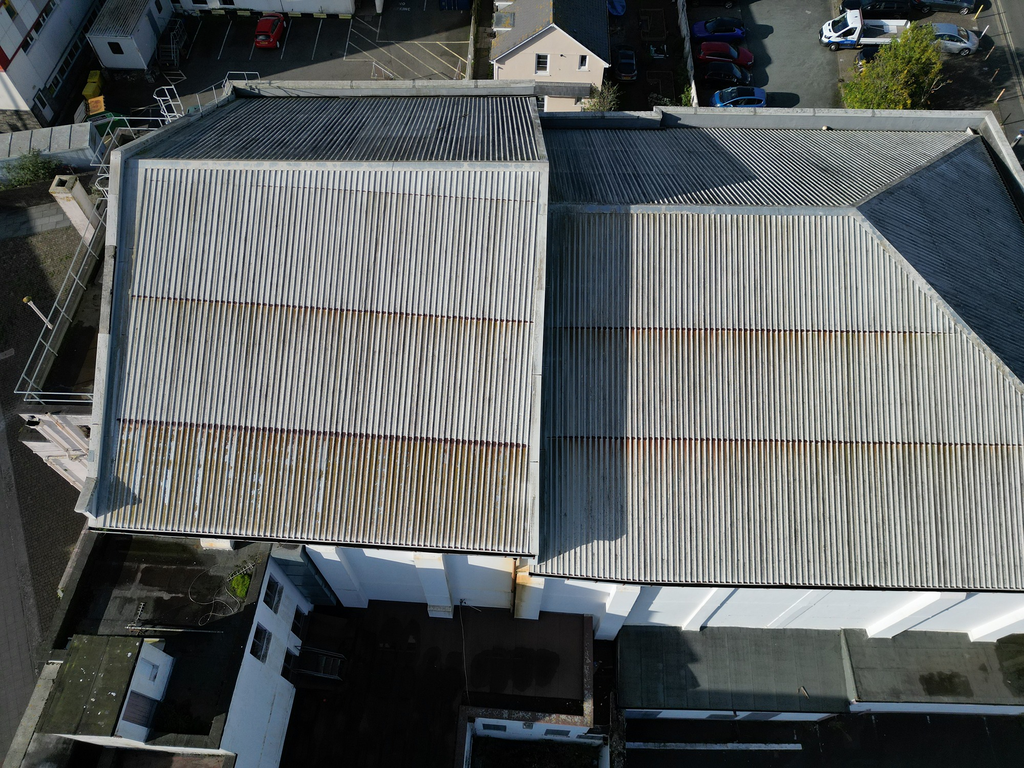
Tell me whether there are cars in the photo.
Yes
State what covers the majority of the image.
buildings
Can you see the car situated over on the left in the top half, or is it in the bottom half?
top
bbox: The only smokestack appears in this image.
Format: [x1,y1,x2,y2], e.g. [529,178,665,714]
[50,176,91,235]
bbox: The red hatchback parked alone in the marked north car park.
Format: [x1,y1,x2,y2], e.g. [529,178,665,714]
[254,17,287,52]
